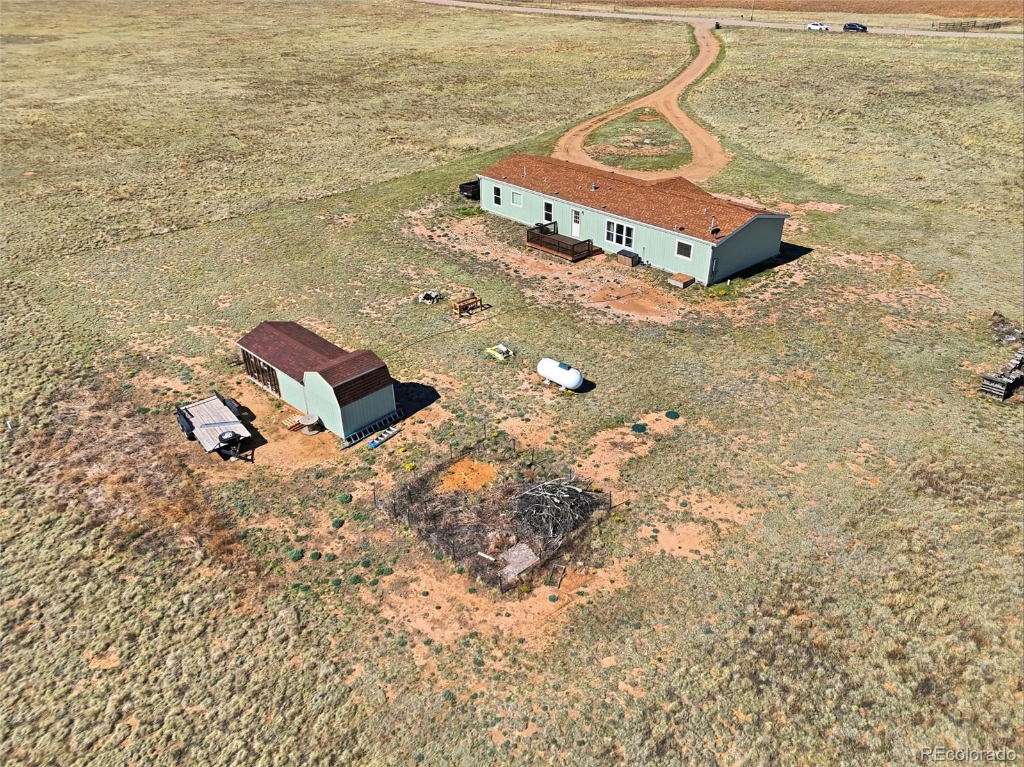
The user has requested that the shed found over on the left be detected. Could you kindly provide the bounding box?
[235,320,397,437]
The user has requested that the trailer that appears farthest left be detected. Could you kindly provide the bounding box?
[174,386,252,465]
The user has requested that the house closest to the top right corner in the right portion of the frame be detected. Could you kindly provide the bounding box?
[473,153,791,285]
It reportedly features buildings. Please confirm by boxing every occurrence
[235,320,397,437]
[473,153,791,285]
